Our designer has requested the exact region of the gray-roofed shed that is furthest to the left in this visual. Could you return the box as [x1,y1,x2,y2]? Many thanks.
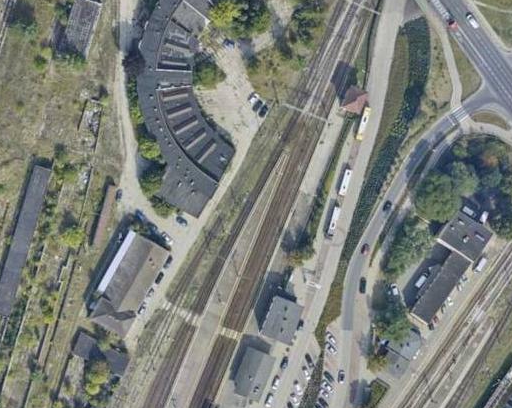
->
[0,166,54,318]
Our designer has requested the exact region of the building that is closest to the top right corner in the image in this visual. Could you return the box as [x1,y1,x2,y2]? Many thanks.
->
[341,85,367,114]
